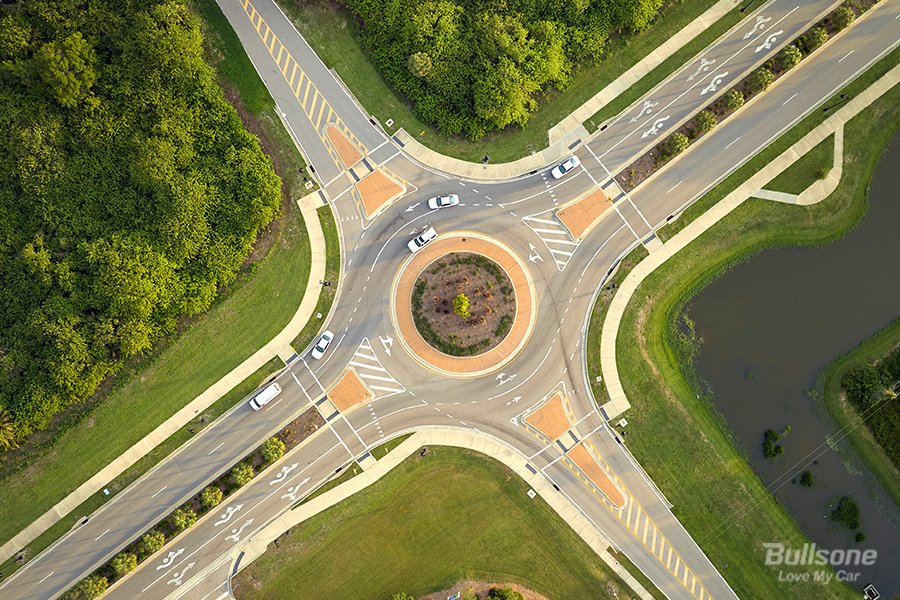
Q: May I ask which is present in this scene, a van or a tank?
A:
van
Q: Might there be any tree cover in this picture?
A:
Yes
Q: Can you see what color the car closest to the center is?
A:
white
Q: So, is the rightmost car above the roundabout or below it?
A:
above it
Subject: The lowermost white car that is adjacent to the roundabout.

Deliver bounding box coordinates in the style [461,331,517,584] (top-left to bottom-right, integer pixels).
[310,329,335,360]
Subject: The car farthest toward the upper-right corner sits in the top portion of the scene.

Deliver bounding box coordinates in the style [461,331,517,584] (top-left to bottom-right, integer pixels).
[550,154,582,180]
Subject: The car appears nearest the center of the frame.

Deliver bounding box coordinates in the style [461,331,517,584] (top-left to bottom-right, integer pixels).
[407,227,438,252]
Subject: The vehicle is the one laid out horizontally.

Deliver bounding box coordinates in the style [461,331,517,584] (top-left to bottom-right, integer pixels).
[427,193,460,209]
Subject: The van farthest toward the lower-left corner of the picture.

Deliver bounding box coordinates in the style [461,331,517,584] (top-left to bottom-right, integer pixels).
[249,381,283,412]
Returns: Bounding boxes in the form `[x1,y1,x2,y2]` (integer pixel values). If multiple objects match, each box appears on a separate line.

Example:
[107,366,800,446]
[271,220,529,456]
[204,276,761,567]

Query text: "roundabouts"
[344,184,584,424]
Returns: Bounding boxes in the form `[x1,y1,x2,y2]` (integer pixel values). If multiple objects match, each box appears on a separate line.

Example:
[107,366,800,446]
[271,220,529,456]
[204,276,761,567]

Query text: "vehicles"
[550,154,582,180]
[407,227,438,252]
[427,193,460,209]
[249,381,283,412]
[310,329,335,360]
